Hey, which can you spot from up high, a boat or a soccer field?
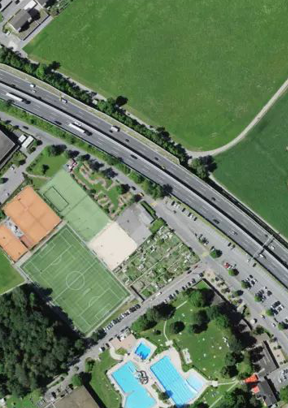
soccer field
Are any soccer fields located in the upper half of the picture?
No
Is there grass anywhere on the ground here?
Yes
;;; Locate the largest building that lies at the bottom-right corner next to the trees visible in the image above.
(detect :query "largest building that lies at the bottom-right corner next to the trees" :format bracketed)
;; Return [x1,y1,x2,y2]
[253,343,277,375]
